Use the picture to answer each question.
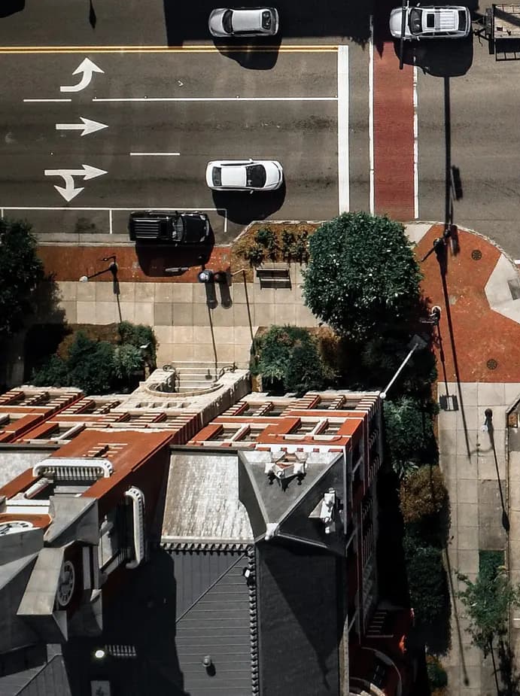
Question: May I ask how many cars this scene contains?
four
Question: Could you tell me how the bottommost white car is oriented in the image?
from side to side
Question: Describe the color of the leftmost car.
black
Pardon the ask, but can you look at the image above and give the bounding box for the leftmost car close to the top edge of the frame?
[209,4,280,41]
